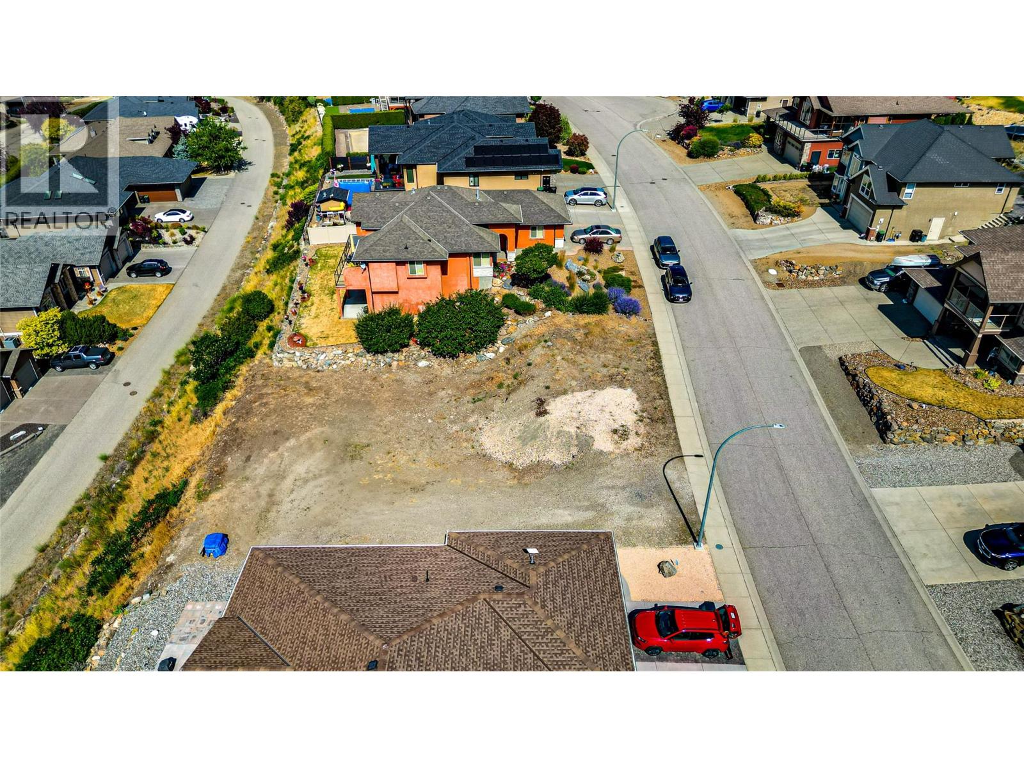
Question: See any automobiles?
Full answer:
Yes, an automobile can be made out from above.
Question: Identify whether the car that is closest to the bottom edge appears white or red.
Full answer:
From above, the car that is closest to the bottom edge appears red.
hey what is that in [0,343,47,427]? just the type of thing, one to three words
house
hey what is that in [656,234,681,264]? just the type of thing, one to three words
car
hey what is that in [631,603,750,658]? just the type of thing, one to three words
car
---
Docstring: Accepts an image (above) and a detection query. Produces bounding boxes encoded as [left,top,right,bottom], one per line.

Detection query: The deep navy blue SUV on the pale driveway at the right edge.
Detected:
[978,524,1024,567]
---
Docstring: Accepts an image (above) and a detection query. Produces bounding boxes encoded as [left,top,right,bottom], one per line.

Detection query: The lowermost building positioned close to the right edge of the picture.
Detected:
[900,231,1024,389]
